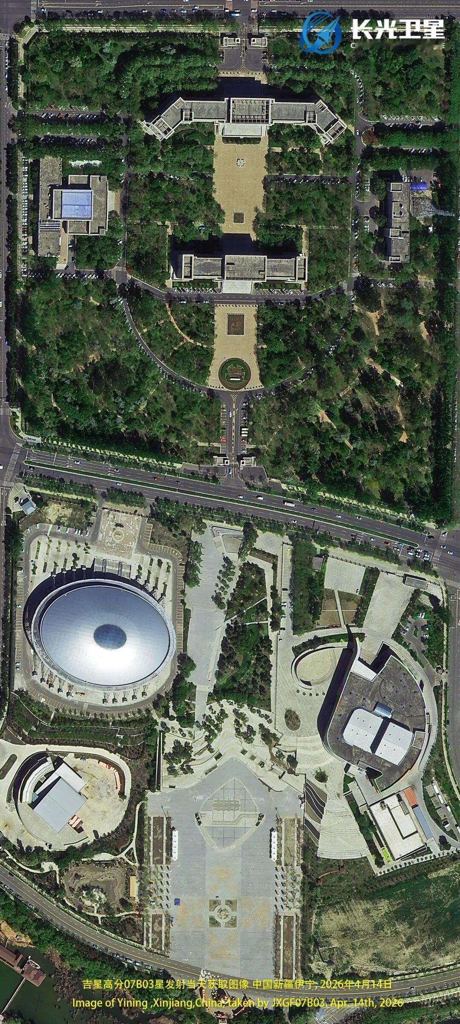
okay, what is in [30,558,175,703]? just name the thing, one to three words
stadium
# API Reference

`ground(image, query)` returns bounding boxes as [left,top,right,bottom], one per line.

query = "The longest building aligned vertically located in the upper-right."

[383,182,411,263]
